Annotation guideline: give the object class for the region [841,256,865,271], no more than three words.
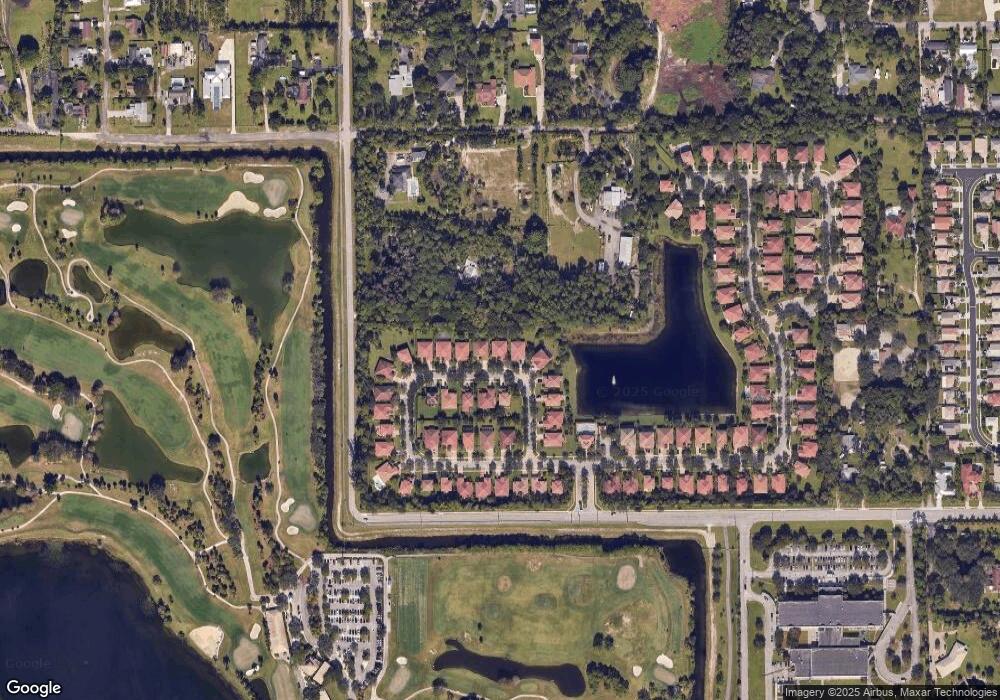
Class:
house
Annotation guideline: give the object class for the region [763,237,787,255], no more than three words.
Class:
house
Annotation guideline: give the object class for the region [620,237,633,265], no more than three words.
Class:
shed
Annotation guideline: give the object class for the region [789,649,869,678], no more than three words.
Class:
building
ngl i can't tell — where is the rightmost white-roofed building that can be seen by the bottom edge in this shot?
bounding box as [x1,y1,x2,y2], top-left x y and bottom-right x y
[937,642,968,678]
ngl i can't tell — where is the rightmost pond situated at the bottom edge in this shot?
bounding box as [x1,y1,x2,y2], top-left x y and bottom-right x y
[433,638,585,697]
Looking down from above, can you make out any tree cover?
Yes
